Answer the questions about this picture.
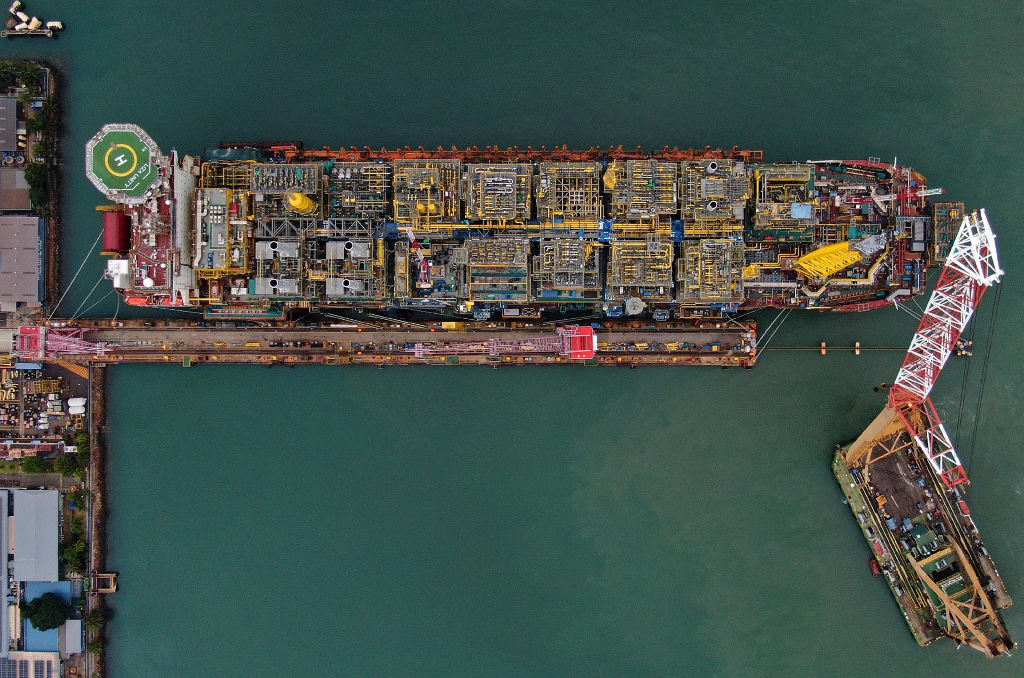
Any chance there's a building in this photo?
Yes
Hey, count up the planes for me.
zero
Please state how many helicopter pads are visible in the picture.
1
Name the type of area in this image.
port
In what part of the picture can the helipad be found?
top left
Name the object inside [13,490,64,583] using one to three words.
building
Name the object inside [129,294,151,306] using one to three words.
boat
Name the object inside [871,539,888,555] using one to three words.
boat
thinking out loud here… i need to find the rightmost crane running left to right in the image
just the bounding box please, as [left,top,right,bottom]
[839,188,946,206]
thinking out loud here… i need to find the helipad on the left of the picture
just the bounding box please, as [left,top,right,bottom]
[85,123,163,203]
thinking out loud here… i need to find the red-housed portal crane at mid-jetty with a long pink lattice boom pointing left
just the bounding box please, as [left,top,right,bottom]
[402,323,599,358]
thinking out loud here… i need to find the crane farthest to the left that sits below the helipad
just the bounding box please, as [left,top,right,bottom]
[16,323,111,359]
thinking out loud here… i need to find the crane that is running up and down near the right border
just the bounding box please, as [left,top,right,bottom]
[844,210,1020,660]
